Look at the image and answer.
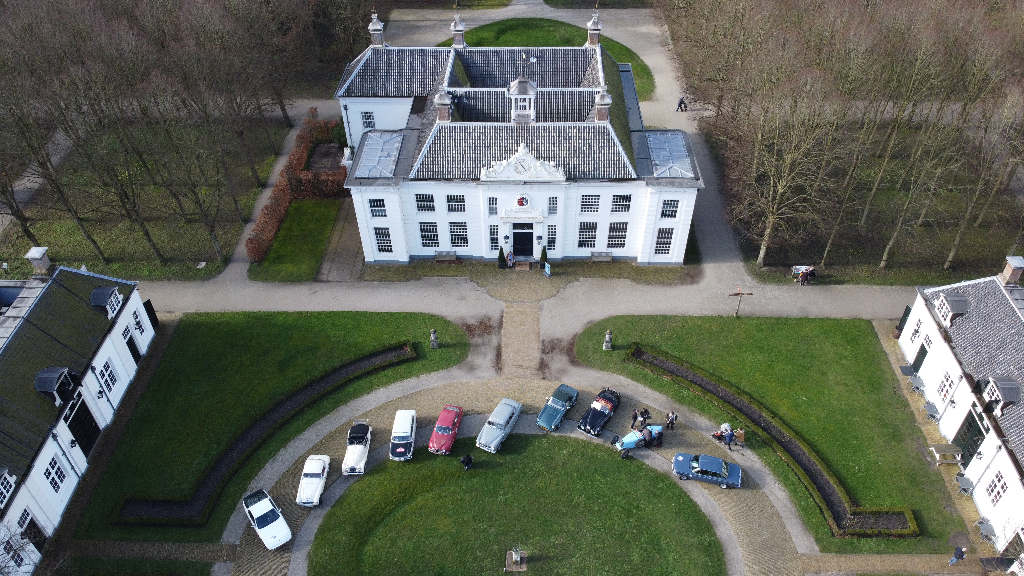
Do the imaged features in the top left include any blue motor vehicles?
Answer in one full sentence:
No, there is no blue motor vehicle in the top left.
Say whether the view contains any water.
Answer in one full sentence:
No, there's no water in this view.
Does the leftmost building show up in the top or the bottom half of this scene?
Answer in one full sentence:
It is in the bottom half that the leftmost building appears.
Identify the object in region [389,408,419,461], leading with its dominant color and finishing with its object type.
white car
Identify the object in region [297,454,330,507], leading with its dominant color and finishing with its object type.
white car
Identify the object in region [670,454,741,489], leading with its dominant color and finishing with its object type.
blue car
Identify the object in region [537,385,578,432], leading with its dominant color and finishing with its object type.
blue car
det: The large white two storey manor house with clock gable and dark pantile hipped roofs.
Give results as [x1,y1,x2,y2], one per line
[334,5,704,266]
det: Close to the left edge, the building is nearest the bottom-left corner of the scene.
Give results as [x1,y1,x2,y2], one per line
[0,247,158,576]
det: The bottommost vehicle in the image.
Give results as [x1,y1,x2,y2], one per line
[242,489,291,552]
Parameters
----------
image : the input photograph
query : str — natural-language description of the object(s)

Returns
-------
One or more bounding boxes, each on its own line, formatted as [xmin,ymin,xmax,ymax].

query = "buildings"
[334,5,704,266]
[0,247,158,576]
[895,252,1024,576]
